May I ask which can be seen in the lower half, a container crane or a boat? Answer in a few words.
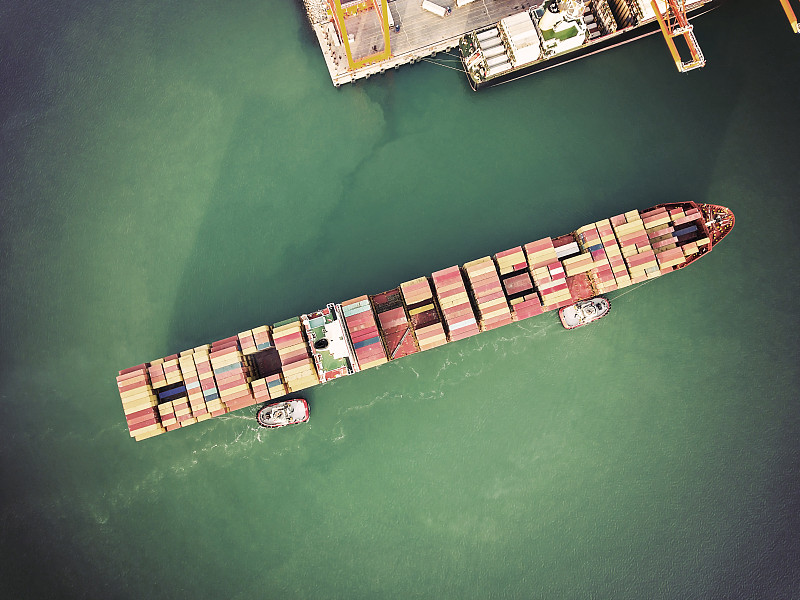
boat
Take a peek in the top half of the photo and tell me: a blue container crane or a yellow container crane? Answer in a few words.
yellow container crane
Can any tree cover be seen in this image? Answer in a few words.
No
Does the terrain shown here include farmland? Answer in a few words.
No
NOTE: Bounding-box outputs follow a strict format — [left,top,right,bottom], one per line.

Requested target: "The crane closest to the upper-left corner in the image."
[323,0,396,73]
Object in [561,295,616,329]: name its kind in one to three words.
boat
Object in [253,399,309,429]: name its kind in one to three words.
boat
